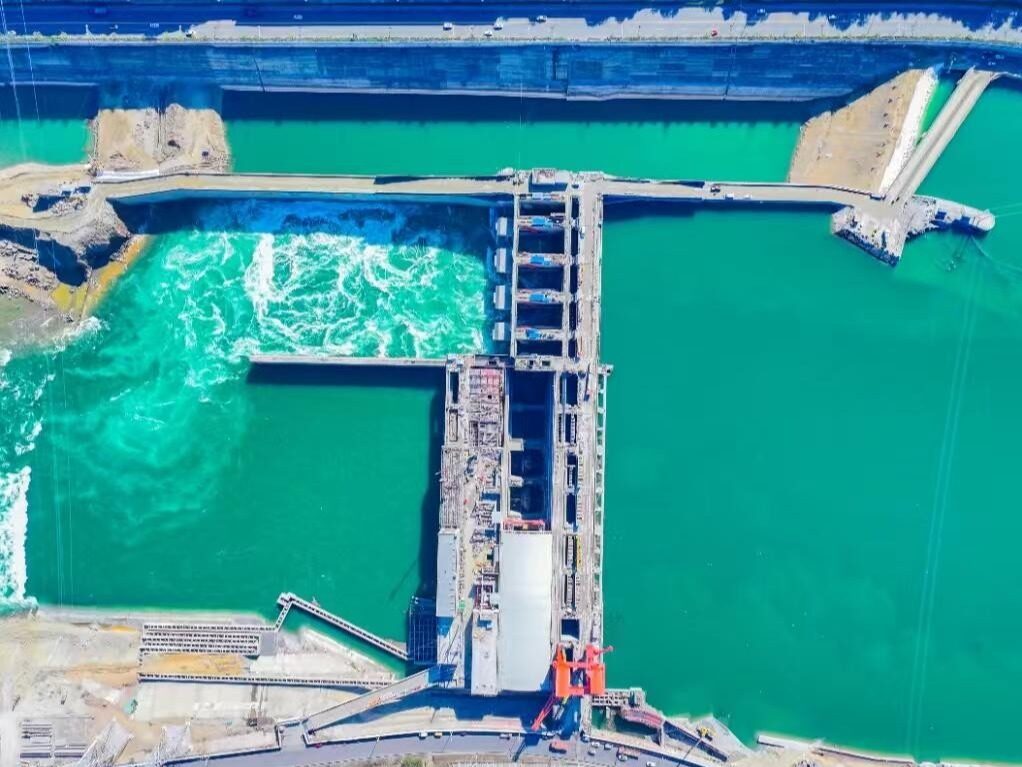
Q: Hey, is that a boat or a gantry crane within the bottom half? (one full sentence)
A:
It is a gantry crane that can be seen within the bottom half.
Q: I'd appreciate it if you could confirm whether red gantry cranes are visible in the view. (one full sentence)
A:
Yes, the picture does show a red gantry crane.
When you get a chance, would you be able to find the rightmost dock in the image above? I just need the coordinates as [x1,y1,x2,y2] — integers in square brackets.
[914,198,994,233]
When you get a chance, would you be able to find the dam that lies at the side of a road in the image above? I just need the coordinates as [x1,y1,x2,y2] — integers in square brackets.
[495,168,626,742]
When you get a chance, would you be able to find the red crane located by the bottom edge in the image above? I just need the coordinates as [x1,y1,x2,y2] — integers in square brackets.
[532,636,613,731]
